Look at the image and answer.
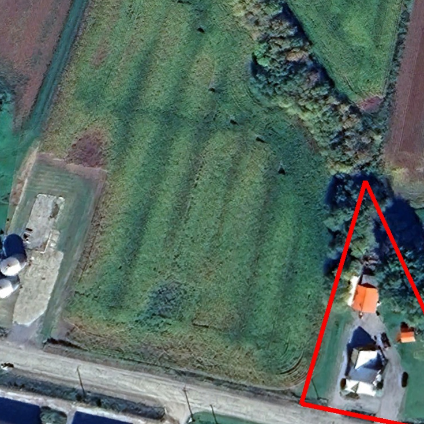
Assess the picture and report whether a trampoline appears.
No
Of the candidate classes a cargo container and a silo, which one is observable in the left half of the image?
silo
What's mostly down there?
grass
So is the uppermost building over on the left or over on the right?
right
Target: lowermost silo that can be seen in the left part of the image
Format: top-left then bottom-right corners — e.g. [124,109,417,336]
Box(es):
[0,276,17,297]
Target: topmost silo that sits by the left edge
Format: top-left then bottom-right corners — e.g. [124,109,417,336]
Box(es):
[1,253,27,277]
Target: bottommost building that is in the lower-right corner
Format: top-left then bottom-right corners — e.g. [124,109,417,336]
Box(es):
[344,343,384,397]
